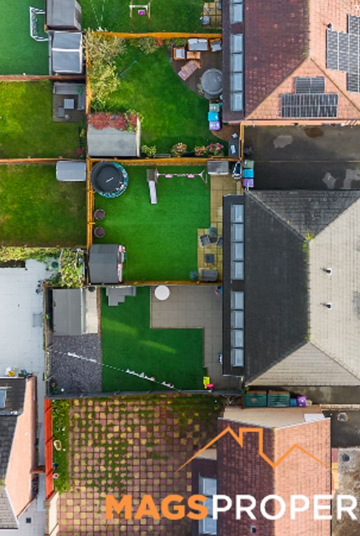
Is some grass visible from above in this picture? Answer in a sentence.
Yes, some grass is visible.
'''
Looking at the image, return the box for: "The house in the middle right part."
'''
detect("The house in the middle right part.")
[221,188,360,387]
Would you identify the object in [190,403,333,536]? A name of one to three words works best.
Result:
house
